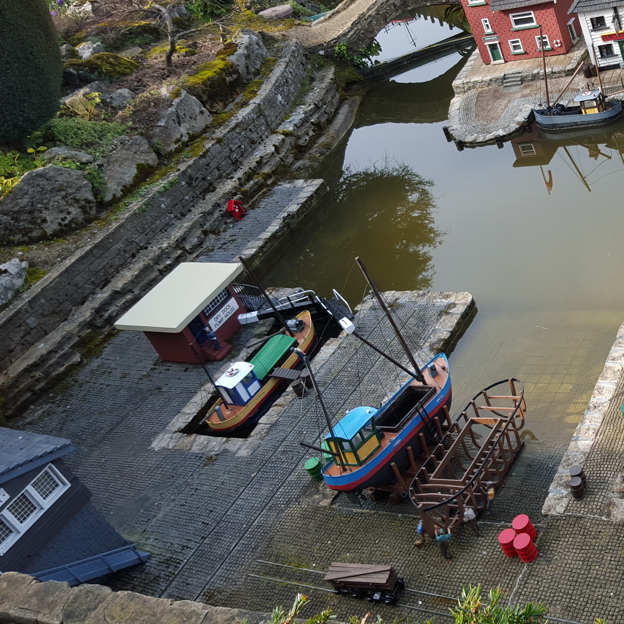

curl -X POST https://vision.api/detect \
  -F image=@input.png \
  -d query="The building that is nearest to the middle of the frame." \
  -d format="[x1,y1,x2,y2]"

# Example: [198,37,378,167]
[100,267,252,360]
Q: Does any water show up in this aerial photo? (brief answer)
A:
Yes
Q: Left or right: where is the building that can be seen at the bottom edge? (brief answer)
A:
left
